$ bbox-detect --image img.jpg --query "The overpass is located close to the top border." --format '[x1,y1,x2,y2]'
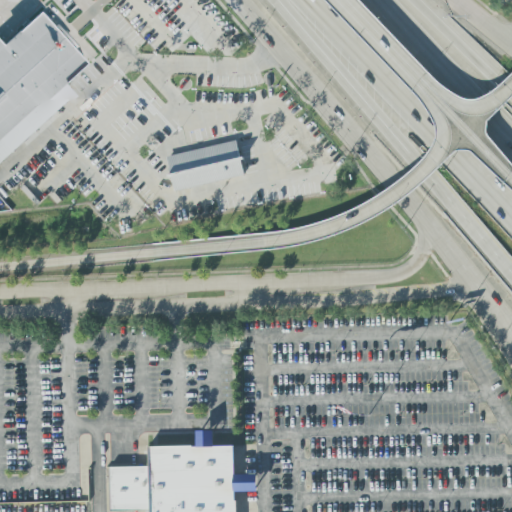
[326,0,512,190]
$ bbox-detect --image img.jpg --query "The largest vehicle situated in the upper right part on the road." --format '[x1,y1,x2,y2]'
[404,128,424,150]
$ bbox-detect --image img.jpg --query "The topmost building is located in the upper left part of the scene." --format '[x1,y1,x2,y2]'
[0,0,90,166]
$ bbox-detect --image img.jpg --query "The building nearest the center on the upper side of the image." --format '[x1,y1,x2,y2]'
[168,141,248,190]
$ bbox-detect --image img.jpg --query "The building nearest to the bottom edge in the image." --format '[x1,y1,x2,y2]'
[108,430,258,512]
